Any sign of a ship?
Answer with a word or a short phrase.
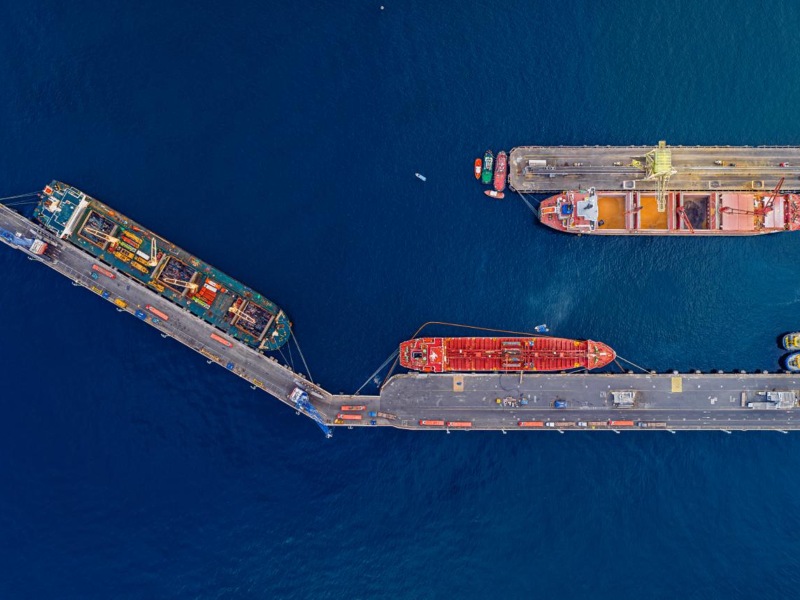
Yes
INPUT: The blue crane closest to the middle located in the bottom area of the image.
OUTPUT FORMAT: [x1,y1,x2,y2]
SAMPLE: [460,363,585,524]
[290,384,332,439]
